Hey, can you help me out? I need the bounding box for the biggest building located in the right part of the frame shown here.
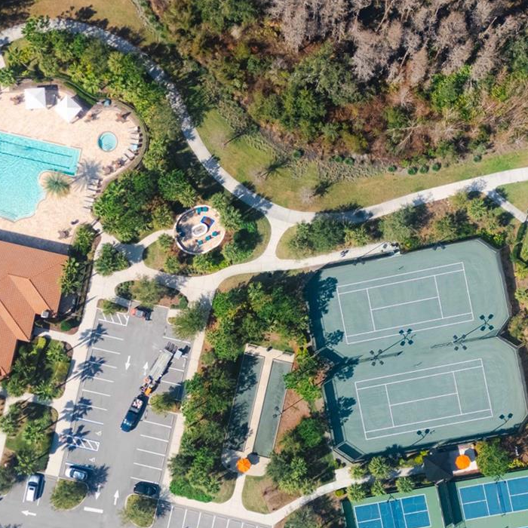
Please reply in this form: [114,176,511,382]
[420,449,455,483]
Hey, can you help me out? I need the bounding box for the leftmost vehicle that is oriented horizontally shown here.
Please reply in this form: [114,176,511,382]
[64,467,88,481]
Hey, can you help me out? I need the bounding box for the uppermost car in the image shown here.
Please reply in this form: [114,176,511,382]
[131,308,152,321]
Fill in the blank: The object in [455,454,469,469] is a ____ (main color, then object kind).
orange umbrella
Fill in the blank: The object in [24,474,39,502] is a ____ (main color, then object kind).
white car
